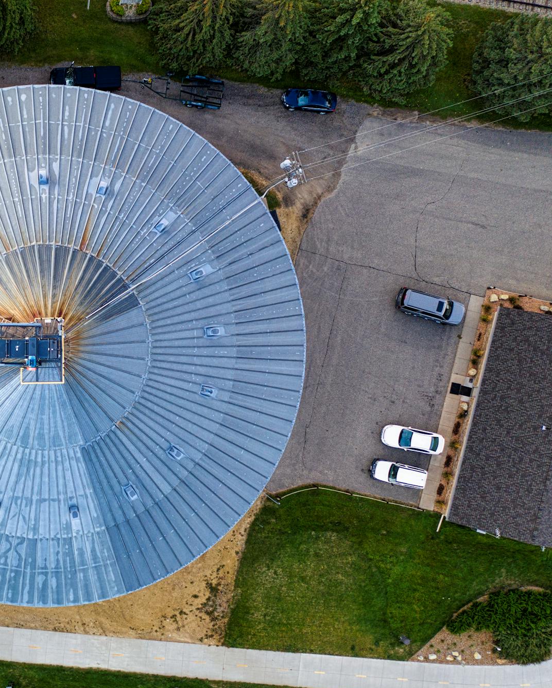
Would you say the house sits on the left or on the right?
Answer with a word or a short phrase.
right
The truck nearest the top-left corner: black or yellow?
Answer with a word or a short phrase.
black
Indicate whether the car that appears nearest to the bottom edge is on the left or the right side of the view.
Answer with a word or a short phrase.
right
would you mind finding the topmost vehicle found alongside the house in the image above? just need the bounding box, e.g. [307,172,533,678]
[392,286,465,324]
